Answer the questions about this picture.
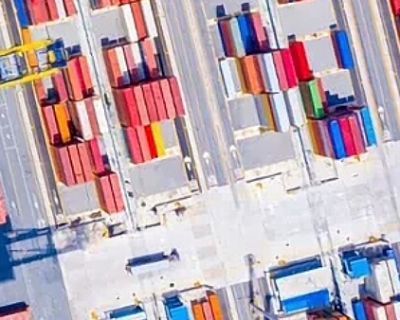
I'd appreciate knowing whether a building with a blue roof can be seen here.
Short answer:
Yes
